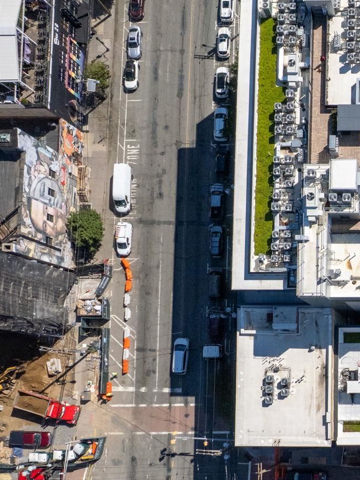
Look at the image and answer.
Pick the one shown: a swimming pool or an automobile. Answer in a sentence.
It is an automobile that can be seen here.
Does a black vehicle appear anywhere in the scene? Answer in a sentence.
Yes, a black vehicle appears in the view.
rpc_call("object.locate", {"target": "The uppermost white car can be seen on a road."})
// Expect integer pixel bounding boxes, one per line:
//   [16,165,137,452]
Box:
[218,0,234,27]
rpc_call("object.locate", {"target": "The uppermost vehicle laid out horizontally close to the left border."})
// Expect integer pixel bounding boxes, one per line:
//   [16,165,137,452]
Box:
[7,392,79,422]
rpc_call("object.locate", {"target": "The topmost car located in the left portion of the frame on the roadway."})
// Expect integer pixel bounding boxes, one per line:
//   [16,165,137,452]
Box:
[130,0,147,21]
